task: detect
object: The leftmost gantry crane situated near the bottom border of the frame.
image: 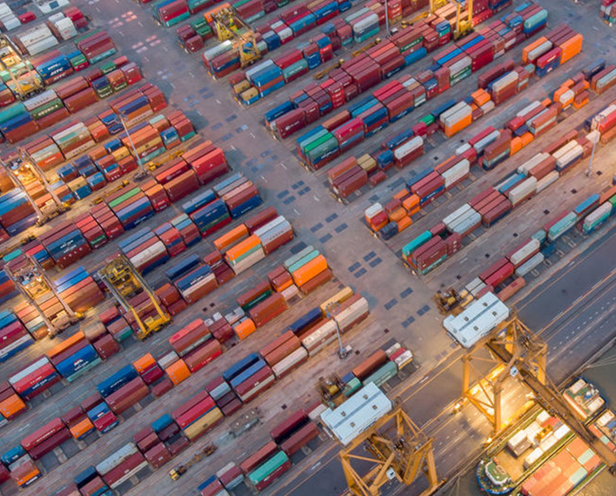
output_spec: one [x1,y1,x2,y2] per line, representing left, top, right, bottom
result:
[316,376,444,496]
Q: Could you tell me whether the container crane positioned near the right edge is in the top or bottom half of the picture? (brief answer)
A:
bottom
